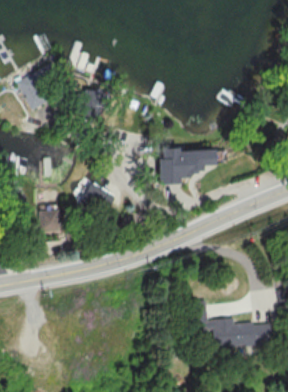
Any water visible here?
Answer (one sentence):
Yes, there's water in this view.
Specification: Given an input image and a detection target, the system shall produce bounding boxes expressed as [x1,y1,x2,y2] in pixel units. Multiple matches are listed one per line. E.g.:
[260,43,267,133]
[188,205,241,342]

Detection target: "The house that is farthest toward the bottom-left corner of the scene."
[40,210,60,234]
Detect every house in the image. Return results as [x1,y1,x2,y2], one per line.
[40,210,60,234]
[82,88,104,116]
[72,178,116,207]
[160,146,218,184]
[17,76,46,110]
[192,298,270,346]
